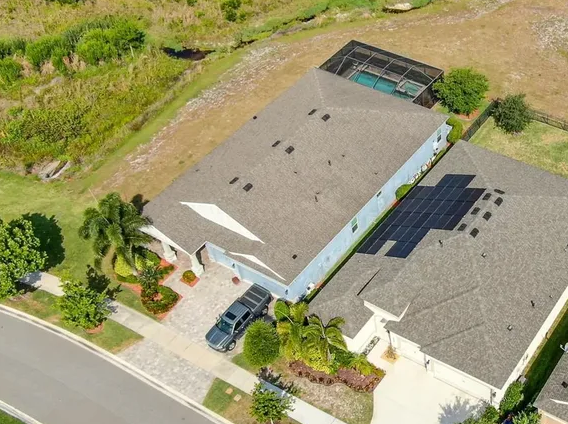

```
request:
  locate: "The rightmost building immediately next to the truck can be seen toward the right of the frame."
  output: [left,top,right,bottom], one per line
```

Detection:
[298,140,568,405]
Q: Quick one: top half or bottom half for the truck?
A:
bottom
